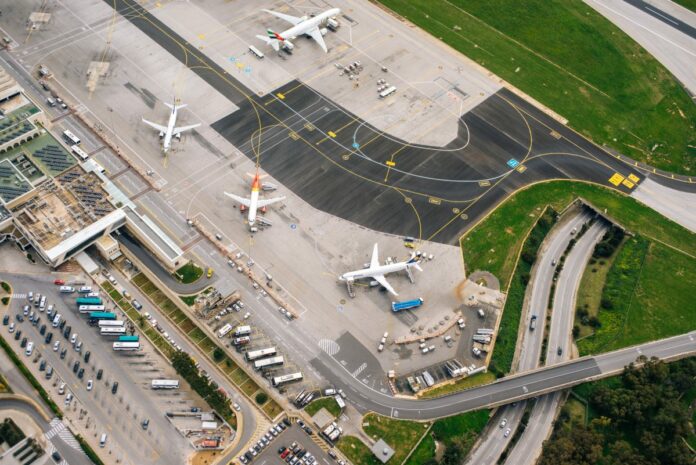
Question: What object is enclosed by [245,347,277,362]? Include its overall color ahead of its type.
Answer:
white vehicle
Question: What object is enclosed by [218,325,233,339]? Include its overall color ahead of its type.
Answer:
white vehicle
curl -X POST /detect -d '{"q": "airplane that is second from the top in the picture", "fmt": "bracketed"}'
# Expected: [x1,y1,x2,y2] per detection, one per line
[142,97,203,152]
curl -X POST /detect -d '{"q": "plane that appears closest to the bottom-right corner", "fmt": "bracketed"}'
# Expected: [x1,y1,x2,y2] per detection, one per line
[343,241,421,296]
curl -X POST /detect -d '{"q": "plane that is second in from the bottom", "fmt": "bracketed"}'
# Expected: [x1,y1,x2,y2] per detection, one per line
[224,167,287,226]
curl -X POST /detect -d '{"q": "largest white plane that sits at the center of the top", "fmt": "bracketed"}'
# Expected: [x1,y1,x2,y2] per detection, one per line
[254,8,341,52]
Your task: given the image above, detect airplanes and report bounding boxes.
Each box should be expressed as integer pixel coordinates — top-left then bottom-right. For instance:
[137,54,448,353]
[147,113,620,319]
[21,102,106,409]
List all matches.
[343,241,421,296]
[224,167,287,226]
[254,8,341,52]
[142,97,203,152]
